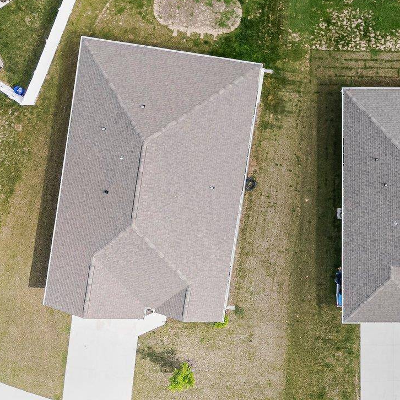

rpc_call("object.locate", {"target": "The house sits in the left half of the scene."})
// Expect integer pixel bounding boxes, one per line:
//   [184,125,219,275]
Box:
[43,36,273,322]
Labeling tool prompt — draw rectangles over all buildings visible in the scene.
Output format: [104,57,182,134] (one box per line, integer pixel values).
[340,87,400,324]
[43,36,273,322]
